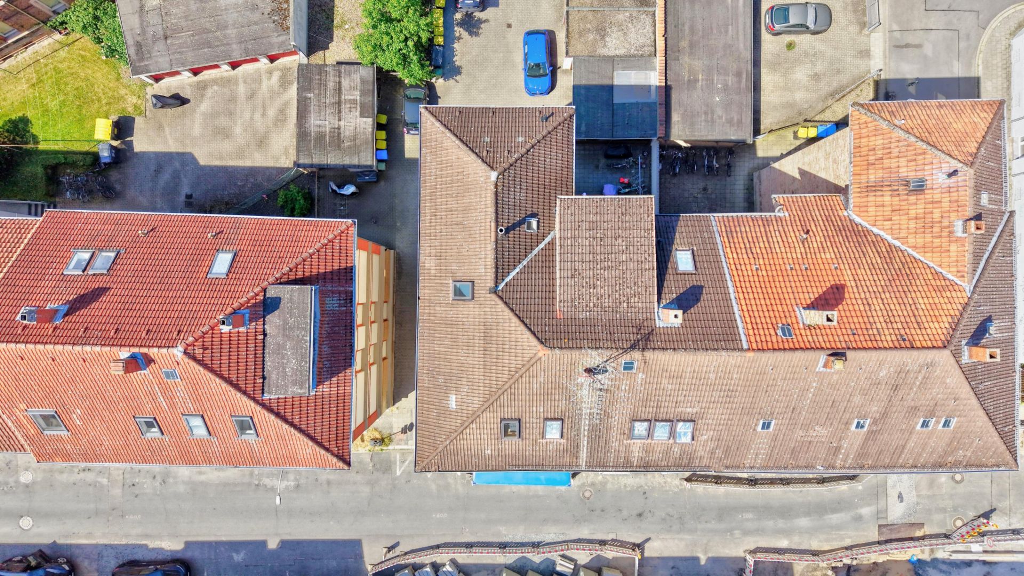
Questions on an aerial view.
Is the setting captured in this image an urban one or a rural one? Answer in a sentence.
From above, the setting appears urban.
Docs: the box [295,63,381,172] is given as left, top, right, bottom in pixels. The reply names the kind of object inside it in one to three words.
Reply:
shed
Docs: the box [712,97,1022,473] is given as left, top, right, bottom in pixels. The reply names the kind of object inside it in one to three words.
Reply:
house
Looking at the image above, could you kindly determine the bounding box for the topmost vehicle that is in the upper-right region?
[768,0,835,35]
